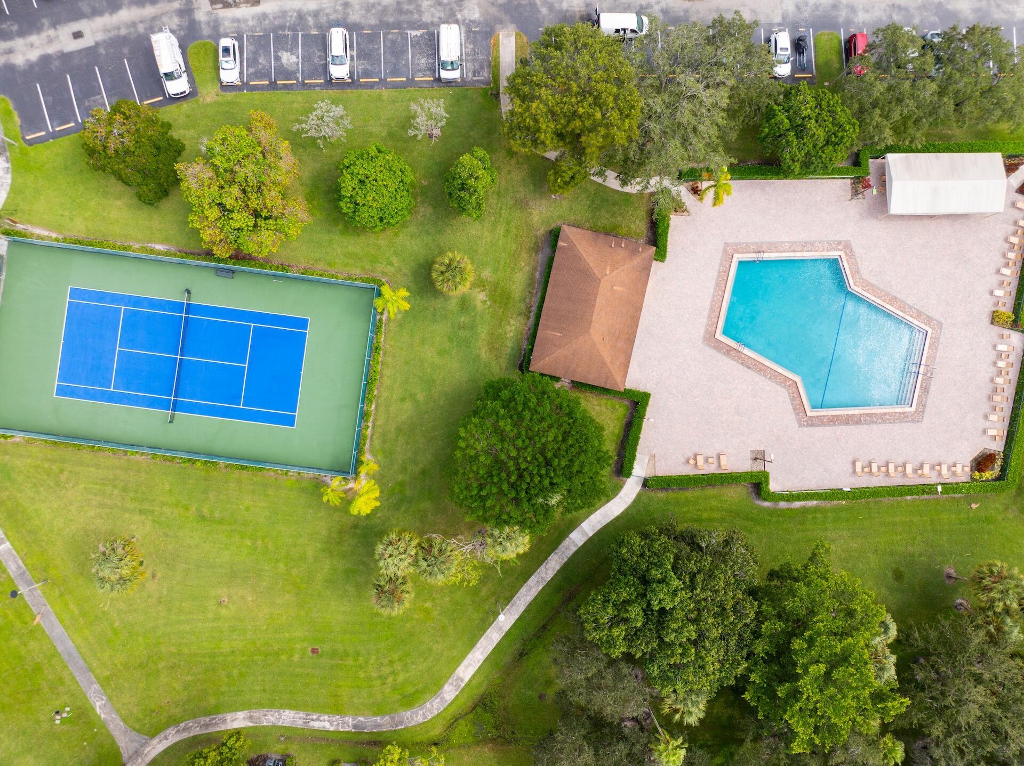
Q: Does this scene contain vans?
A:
Yes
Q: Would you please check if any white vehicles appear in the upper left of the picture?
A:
Yes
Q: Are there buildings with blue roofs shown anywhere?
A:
No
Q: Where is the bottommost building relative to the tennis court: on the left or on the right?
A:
right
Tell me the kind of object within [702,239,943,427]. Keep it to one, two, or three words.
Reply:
swimming pool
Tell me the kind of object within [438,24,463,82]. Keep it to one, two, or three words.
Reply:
vehicle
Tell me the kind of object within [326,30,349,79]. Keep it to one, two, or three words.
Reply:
car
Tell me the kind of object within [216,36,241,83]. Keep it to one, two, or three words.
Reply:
car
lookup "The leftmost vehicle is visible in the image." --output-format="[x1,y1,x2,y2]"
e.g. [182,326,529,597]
[148,24,191,97]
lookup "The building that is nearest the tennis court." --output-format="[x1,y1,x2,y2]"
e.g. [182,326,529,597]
[530,224,656,391]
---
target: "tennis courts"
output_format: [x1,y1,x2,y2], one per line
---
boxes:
[0,242,374,475]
